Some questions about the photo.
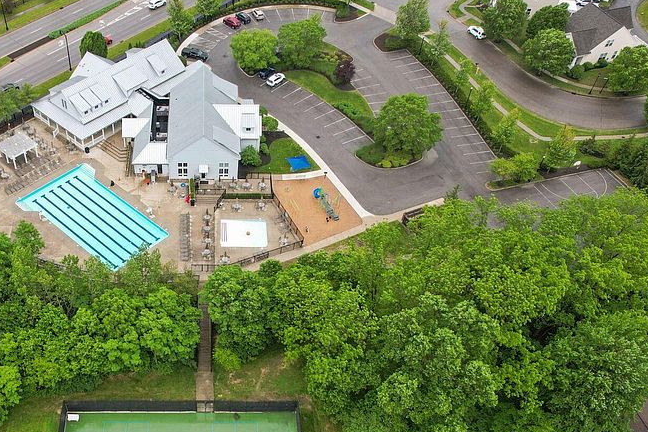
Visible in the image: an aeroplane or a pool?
pool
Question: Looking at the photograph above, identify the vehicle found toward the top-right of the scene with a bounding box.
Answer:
[468,23,488,39]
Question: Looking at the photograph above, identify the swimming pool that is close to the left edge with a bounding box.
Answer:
[13,161,172,272]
